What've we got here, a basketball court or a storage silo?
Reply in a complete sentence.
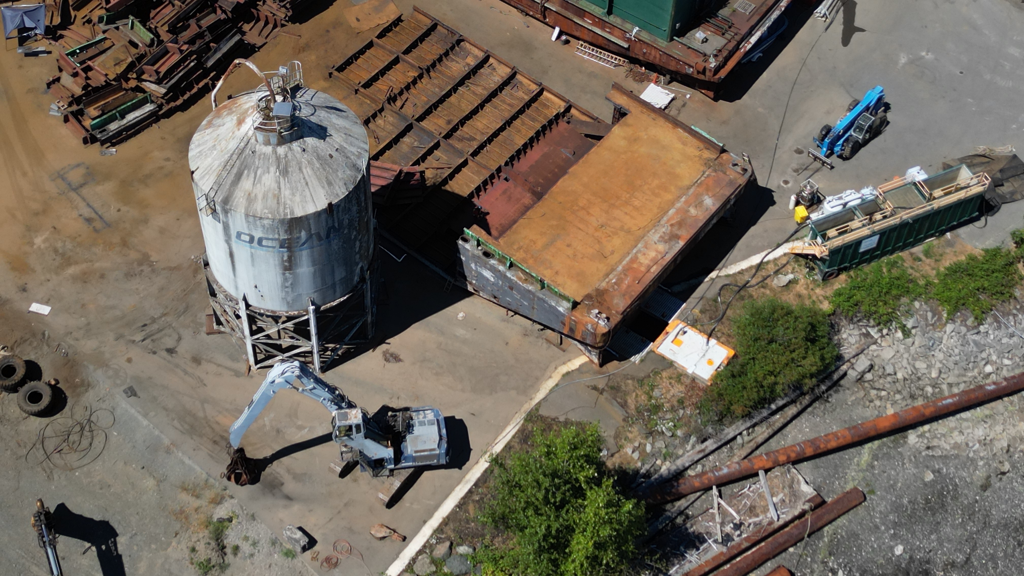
The image shows a storage silo.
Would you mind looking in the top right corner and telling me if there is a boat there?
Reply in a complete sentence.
Yes, the scene does show a boat in the top right corner.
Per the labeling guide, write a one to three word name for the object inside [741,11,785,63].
boat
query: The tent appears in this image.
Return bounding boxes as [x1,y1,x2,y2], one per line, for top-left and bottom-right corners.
[2,6,51,60]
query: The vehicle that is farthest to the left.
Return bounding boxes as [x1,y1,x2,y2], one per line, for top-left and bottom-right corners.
[220,353,460,510]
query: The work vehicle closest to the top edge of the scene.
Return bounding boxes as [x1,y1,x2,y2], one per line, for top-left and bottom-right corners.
[800,77,889,177]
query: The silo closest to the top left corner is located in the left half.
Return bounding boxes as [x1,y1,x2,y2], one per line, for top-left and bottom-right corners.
[183,58,382,372]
